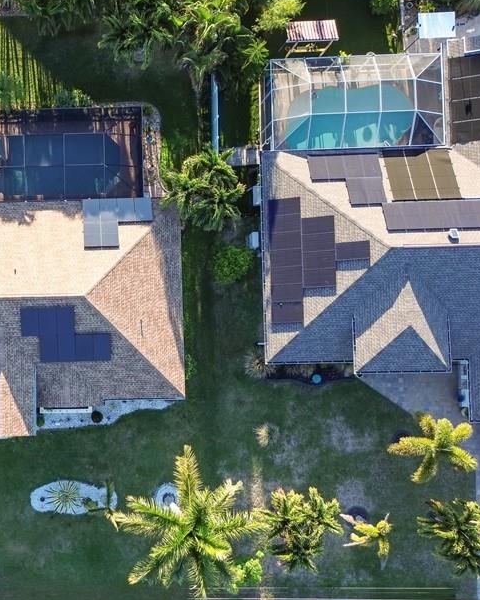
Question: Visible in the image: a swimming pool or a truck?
swimming pool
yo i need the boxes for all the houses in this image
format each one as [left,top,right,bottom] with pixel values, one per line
[0,199,185,439]
[261,36,480,422]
